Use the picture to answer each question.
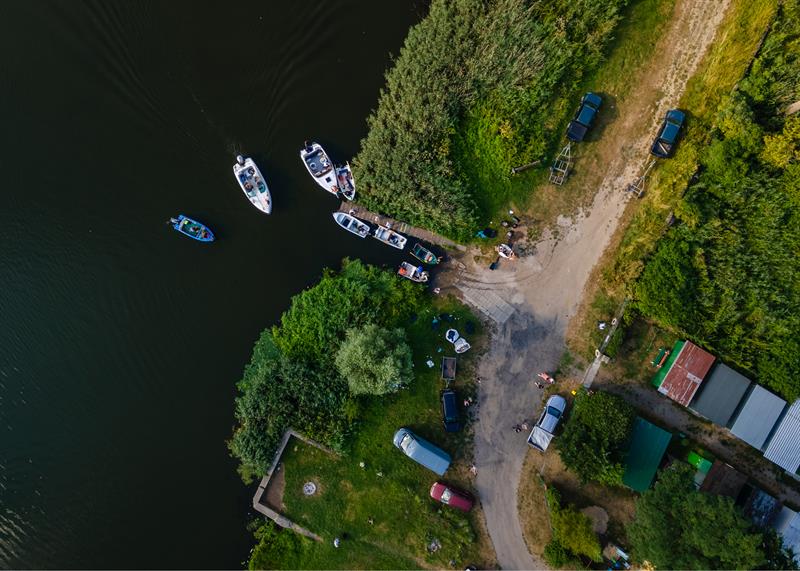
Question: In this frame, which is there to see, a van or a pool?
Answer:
van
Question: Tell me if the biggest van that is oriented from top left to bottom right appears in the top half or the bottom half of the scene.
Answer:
bottom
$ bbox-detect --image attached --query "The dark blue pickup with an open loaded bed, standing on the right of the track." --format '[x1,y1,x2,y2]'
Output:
[648,108,684,162]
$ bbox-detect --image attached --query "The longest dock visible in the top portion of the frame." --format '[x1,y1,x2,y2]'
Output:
[338,201,466,252]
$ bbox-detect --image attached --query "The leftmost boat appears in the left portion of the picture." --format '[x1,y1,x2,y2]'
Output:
[168,213,216,240]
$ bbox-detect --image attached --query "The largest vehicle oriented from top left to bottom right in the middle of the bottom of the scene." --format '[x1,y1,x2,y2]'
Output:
[393,424,452,476]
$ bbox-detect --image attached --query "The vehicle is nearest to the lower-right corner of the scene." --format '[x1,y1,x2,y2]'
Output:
[525,390,566,453]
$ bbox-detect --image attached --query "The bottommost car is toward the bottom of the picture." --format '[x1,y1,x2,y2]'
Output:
[428,481,477,514]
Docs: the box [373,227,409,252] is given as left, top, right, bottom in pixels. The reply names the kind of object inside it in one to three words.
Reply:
boat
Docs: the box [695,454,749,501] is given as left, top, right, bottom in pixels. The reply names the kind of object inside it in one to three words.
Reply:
shed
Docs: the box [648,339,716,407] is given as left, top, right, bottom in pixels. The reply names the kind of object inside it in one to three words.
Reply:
shed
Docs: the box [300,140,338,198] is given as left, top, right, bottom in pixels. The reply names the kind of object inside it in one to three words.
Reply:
boat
